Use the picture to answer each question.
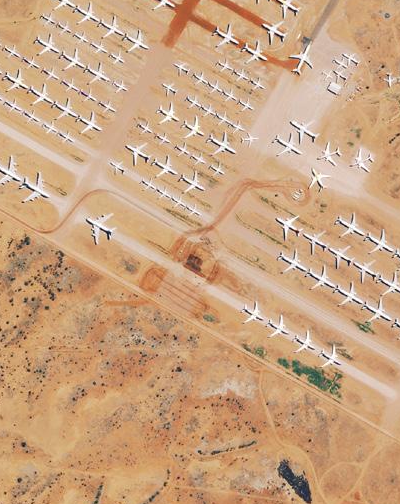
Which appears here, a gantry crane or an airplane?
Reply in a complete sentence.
Of the two, only an airplane appears.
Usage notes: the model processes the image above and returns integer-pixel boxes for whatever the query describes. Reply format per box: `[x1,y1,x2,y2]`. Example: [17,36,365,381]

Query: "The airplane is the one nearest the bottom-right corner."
[319,346,341,367]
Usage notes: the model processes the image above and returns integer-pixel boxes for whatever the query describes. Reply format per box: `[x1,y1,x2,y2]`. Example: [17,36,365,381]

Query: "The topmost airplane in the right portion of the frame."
[279,0,300,16]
